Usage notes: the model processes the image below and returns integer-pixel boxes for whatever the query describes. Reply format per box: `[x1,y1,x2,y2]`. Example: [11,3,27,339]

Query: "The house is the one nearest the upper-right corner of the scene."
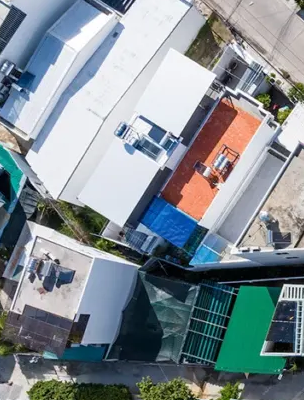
[211,43,270,101]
